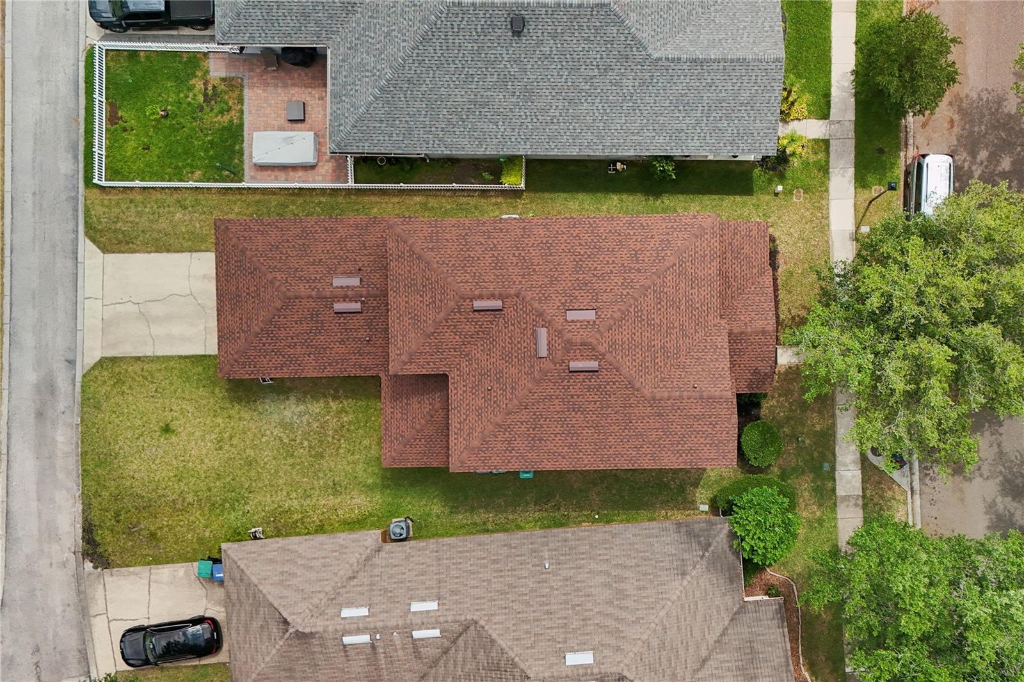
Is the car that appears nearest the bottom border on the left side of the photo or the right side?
left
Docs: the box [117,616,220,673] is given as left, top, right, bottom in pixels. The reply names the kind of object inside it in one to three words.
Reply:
car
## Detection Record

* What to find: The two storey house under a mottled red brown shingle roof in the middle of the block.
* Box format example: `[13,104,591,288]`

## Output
[215,215,778,472]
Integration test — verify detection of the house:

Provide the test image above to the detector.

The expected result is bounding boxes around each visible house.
[215,0,785,166]
[222,506,800,682]
[215,215,778,472]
